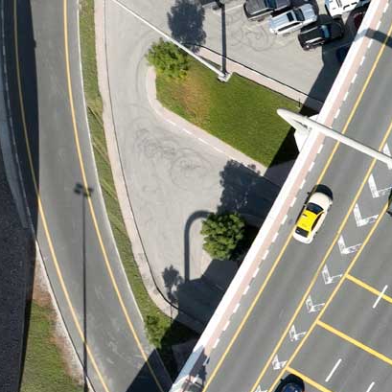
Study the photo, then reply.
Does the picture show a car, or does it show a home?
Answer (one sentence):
Of the two, only a car appears.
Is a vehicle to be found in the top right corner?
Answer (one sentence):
Yes, a vehicle is visible in the top right corner.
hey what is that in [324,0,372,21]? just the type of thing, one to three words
car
